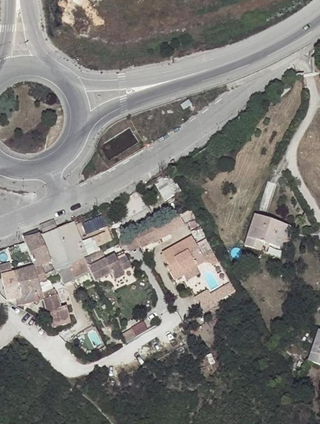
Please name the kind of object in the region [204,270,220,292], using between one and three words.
swimming pool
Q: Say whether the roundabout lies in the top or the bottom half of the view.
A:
top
